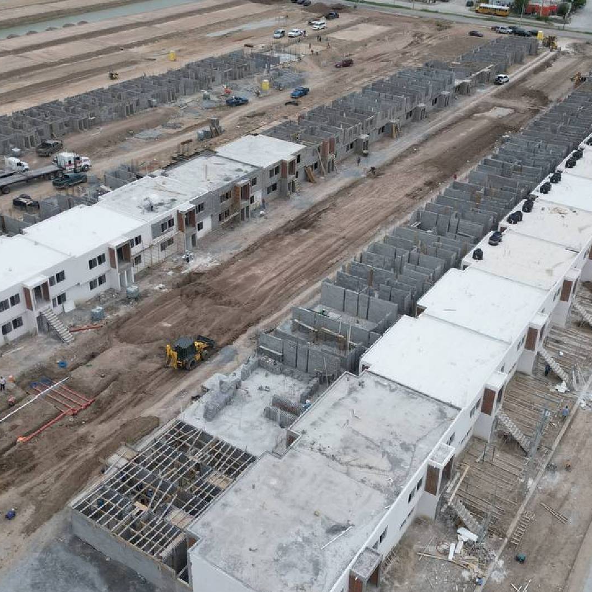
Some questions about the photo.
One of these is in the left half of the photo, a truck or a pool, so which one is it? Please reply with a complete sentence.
The feature located in the left half of the photo is a truck.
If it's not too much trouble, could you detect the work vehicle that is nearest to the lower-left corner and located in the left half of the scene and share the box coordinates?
[169,330,226,368]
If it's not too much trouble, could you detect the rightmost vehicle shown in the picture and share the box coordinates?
[566,73,588,89]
